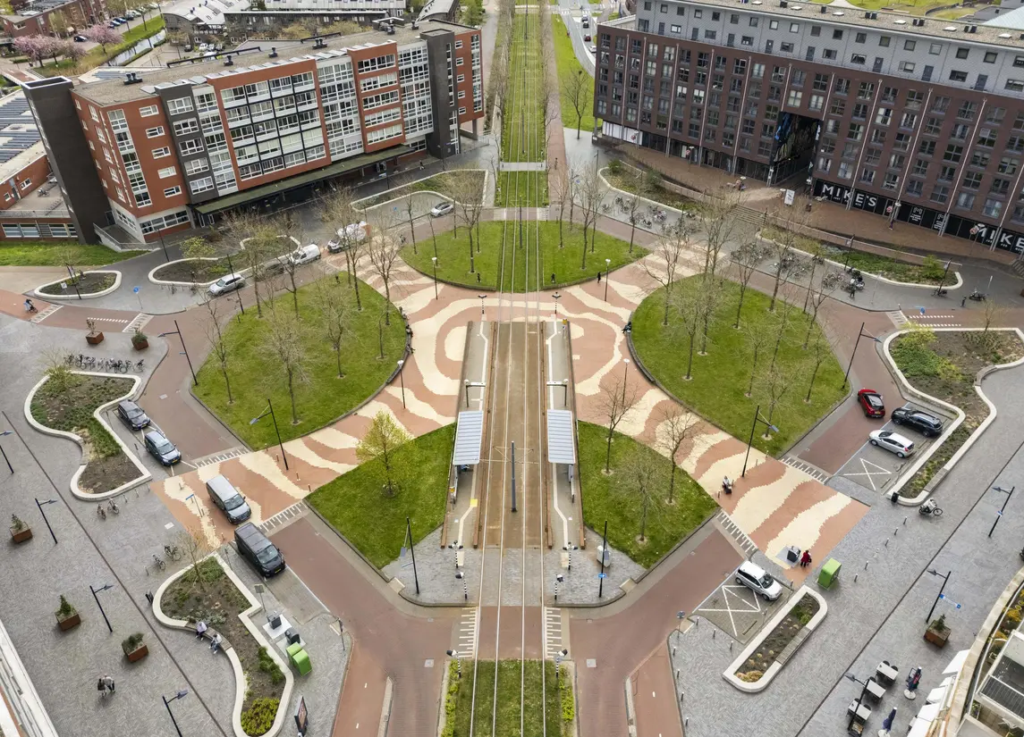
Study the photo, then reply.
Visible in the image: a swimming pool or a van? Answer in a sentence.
Looking from above, you can make out a van.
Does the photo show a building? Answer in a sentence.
Yes, a building appears in the view.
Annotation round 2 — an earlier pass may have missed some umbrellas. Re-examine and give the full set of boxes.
[906,671,927,703]
[877,713,898,737]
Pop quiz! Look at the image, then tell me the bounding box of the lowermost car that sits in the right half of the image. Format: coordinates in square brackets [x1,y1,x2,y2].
[734,555,788,603]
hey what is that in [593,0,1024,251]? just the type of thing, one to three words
building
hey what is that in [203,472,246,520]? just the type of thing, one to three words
van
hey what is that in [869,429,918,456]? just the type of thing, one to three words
car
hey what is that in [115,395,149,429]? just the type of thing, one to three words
car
